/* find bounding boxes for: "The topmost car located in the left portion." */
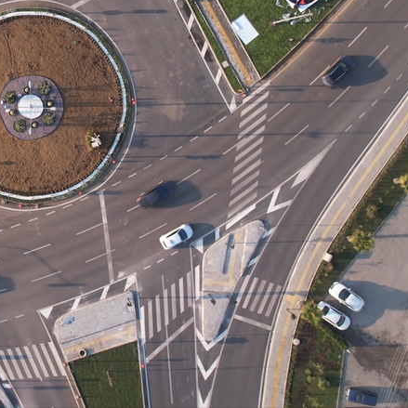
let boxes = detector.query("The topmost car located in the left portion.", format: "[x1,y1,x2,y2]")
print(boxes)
[137,180,175,211]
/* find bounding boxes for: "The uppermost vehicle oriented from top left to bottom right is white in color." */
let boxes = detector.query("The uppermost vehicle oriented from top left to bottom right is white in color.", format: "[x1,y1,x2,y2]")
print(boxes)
[327,281,366,313]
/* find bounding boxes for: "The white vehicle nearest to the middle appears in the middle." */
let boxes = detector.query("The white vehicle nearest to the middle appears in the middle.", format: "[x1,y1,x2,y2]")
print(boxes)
[158,222,195,251]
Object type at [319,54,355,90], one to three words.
car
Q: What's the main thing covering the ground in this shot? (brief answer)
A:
paved ground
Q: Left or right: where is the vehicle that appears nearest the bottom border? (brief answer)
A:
right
